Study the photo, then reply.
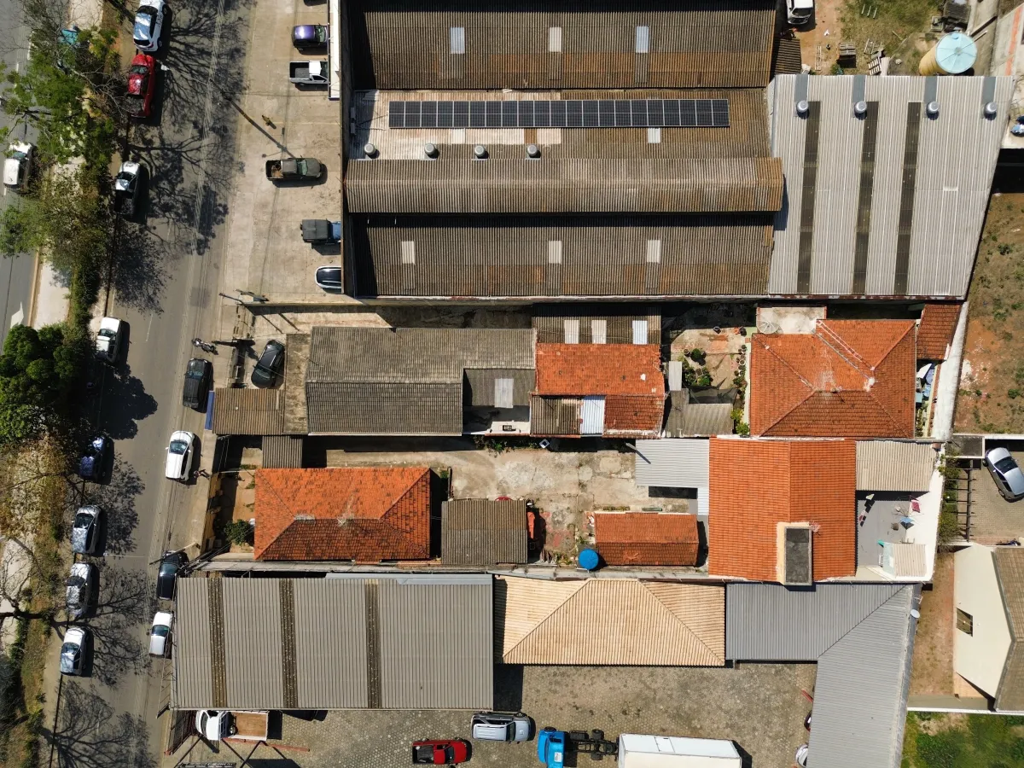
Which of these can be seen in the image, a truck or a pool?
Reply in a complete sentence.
The image shows a truck.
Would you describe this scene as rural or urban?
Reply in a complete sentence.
This place is urban.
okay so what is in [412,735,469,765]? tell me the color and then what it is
red truck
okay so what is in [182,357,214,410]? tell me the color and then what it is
black car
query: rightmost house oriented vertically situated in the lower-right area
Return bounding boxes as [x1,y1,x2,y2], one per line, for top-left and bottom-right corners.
[954,545,1024,700]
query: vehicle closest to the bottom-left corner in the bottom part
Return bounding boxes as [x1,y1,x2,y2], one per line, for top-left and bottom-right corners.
[60,624,92,677]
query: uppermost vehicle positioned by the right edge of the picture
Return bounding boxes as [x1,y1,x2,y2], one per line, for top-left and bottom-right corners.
[980,446,1024,503]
